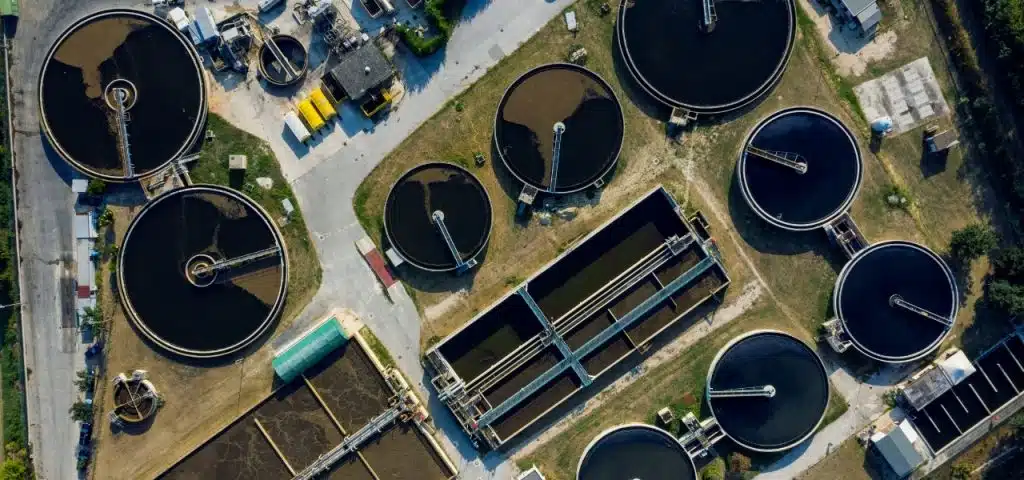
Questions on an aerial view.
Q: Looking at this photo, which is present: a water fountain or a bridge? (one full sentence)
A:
It is a bridge that can be seen here.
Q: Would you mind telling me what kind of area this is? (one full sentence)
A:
It's an industrial area.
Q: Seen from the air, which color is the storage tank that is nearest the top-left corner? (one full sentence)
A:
In this view, the storage tank that is nearest the top-left corner is black.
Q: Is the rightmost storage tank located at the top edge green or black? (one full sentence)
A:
The rightmost storage tank located at the top edge is black.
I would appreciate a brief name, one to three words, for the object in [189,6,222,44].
shed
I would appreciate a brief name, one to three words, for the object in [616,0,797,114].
storage tank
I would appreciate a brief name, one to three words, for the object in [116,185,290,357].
storage tank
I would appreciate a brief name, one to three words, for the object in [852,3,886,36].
building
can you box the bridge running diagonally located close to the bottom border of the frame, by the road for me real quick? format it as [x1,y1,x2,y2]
[288,395,409,480]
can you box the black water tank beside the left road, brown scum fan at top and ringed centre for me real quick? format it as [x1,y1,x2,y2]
[39,11,211,180]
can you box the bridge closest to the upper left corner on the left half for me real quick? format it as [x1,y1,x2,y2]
[115,87,131,177]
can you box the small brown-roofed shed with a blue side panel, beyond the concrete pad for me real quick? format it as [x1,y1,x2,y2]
[926,129,960,153]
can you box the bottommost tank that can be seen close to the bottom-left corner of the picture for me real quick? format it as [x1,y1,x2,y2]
[111,373,163,423]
